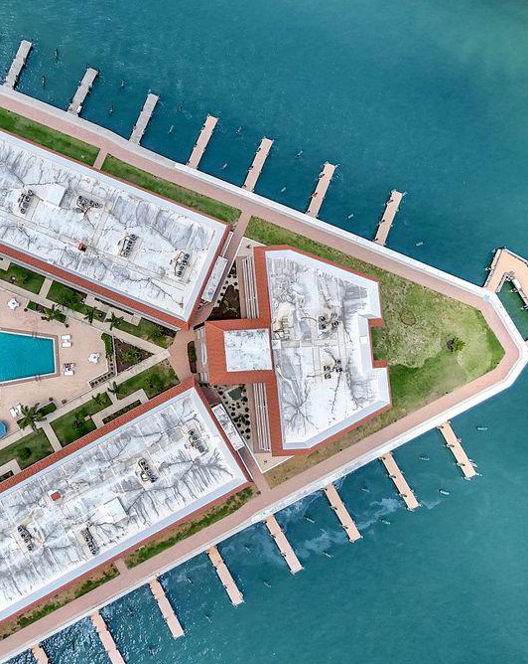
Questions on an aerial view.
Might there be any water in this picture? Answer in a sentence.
Yes, the picture does contain water.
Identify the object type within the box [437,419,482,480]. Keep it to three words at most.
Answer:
pier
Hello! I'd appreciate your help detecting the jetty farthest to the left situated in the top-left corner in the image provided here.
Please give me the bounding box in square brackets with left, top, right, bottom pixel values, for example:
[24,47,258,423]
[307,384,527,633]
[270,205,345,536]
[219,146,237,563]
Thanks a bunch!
[3,37,34,90]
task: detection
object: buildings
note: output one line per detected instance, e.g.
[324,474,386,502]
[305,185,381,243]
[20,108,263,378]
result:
[0,127,234,330]
[0,378,252,626]
[190,245,390,455]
